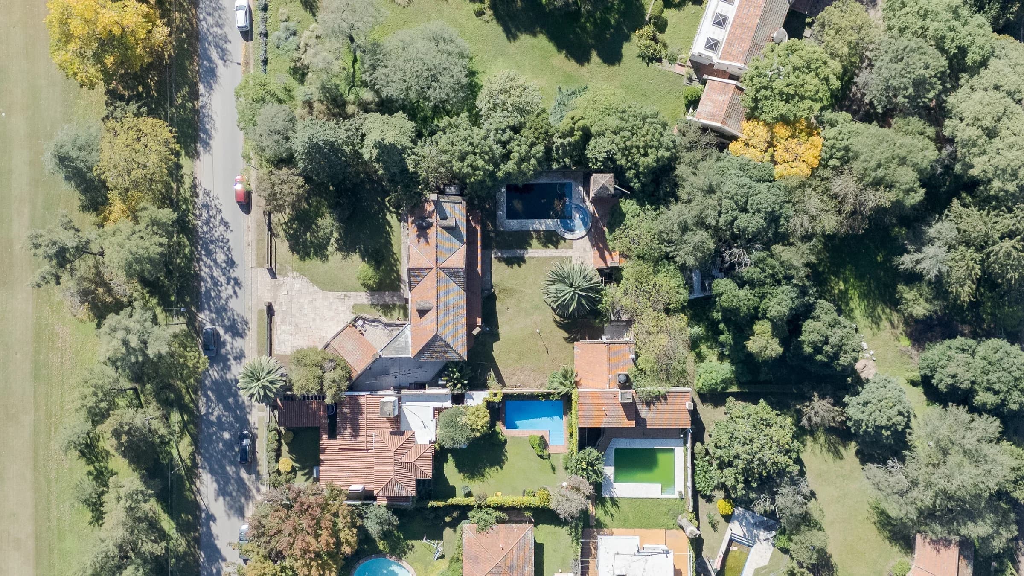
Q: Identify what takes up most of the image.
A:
trees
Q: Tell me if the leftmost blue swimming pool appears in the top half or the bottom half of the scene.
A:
bottom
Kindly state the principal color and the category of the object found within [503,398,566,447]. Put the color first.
blue swimming pool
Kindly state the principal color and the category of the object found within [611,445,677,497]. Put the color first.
green swimming pool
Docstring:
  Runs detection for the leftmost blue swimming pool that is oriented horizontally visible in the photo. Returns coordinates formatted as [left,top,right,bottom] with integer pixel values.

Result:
[351,552,415,576]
